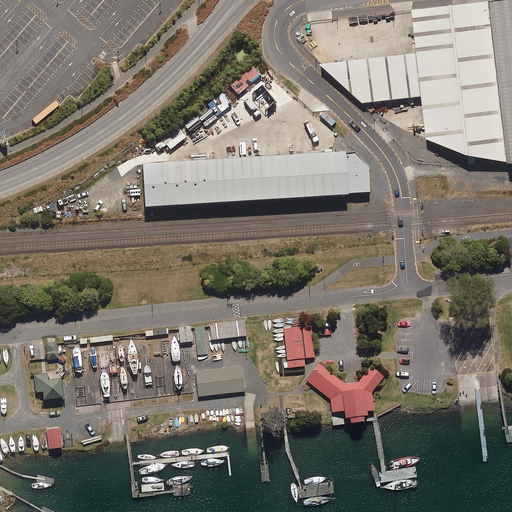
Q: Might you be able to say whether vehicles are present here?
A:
Yes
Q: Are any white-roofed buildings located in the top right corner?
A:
Yes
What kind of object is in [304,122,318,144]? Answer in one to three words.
vehicle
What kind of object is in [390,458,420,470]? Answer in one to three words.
boat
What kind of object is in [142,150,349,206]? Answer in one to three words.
building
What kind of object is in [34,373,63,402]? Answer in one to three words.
house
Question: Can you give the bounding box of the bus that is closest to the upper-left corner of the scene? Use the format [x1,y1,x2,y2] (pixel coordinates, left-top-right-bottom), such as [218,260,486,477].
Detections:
[30,101,60,125]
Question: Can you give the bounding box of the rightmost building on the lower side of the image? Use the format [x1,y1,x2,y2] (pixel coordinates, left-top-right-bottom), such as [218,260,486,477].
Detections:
[307,364,384,426]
